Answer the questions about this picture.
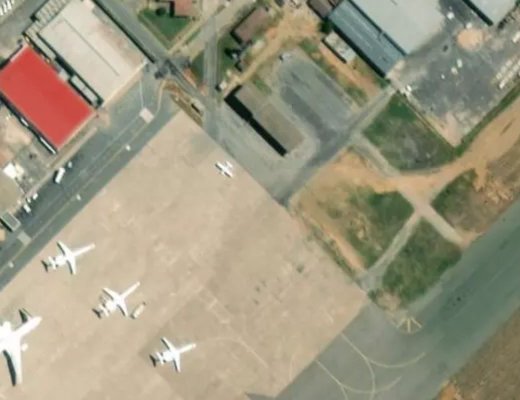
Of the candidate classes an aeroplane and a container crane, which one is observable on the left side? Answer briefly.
aeroplane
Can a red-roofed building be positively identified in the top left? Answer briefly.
Yes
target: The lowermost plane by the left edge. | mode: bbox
[0,316,42,383]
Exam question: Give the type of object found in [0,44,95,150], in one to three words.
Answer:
building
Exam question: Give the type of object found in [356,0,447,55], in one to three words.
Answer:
building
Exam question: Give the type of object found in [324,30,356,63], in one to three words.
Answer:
shed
